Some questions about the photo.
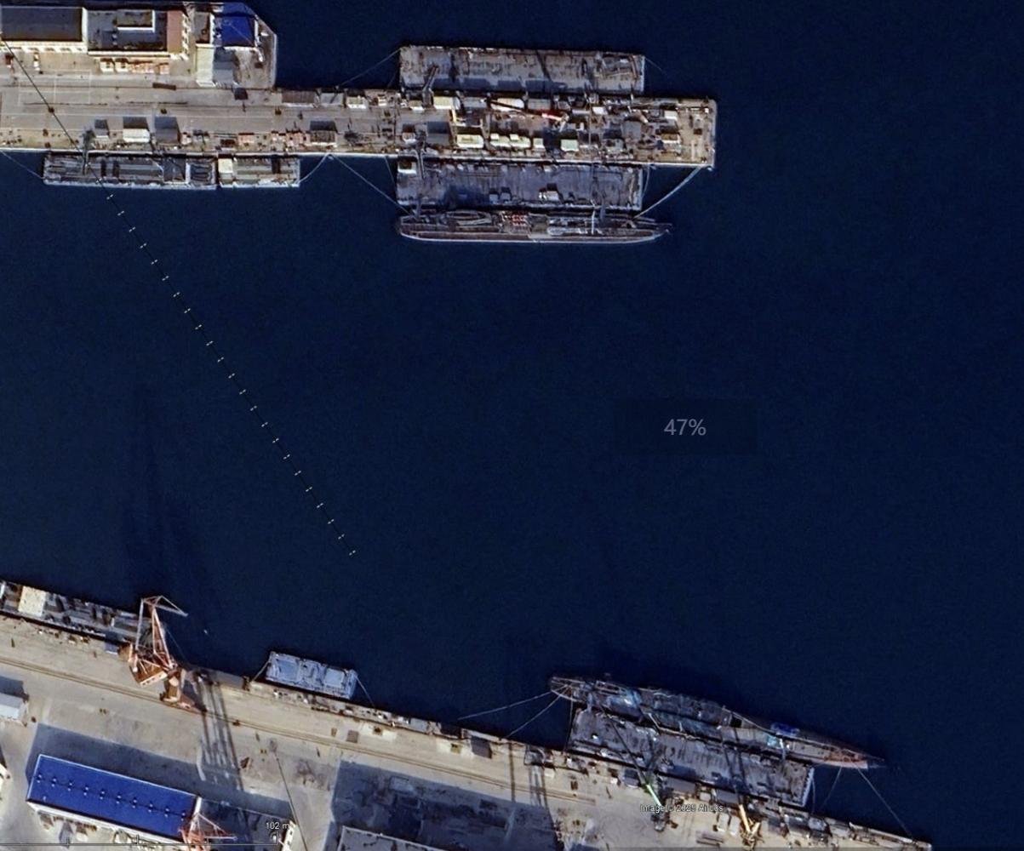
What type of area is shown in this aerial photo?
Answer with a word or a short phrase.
port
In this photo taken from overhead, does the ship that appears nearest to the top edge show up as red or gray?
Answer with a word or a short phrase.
gray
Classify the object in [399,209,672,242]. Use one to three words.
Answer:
ship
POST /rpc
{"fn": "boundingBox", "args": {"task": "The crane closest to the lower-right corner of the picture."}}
[725,723,761,849]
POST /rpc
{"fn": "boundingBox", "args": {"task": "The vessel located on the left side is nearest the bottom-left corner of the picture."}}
[0,581,151,641]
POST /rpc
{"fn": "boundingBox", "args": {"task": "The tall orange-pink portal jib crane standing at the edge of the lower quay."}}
[119,596,211,712]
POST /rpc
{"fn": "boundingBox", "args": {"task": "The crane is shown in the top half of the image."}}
[491,99,572,134]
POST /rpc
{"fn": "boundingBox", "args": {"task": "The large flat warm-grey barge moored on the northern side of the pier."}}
[401,43,645,95]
